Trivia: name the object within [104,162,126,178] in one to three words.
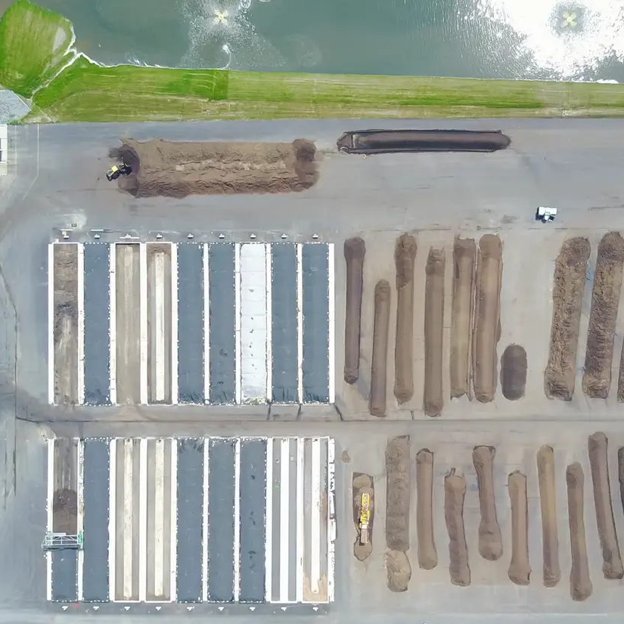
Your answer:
work vehicle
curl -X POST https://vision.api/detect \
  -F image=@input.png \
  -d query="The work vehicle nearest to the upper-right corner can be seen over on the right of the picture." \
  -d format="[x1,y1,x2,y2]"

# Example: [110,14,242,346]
[538,207,559,220]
